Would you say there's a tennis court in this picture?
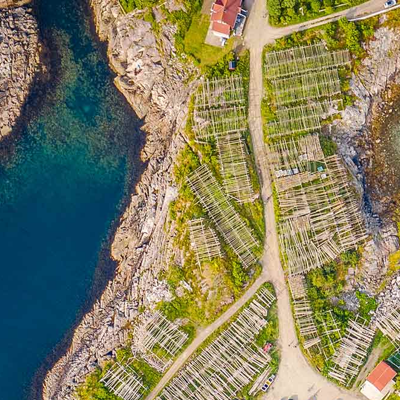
No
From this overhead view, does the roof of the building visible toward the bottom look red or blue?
red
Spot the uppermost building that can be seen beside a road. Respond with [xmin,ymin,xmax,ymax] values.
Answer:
[211,0,247,43]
